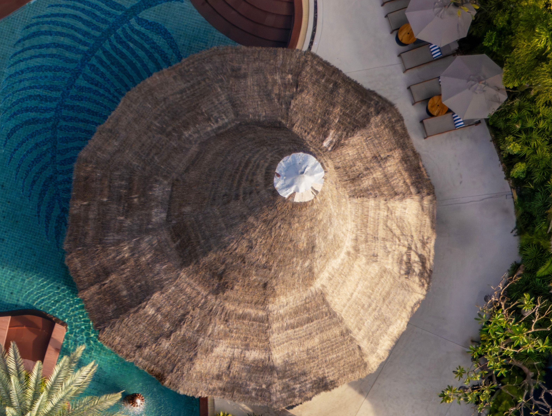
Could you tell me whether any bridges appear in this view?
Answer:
No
